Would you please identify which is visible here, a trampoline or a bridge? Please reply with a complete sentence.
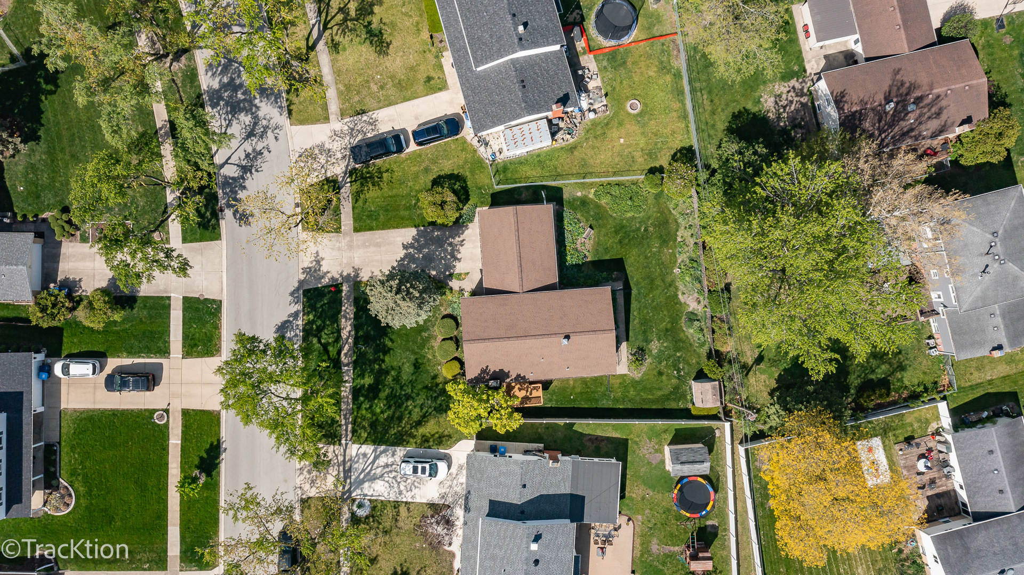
The one in the frame is a trampoline.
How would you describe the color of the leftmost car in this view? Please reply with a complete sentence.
The color of the leftmost car is white.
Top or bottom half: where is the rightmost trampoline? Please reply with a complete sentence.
The bottom half of the photo is where the rightmost trampoline is.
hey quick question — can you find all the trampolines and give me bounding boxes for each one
[671,477,716,523]
[591,0,636,45]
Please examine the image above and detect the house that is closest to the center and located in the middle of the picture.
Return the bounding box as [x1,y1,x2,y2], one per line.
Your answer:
[461,191,618,392]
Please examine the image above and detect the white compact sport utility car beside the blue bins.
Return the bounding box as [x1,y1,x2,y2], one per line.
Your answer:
[54,357,101,381]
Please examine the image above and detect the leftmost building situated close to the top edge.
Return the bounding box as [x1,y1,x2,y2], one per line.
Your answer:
[437,0,580,137]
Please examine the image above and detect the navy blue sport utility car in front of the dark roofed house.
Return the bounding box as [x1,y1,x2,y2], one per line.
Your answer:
[410,118,462,148]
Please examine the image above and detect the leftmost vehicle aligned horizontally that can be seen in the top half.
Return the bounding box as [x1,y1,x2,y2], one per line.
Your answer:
[347,132,407,163]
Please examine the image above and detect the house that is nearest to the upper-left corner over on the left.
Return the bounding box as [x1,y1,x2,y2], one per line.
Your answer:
[0,215,47,302]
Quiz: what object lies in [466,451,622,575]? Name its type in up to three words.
house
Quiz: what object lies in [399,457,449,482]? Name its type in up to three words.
car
